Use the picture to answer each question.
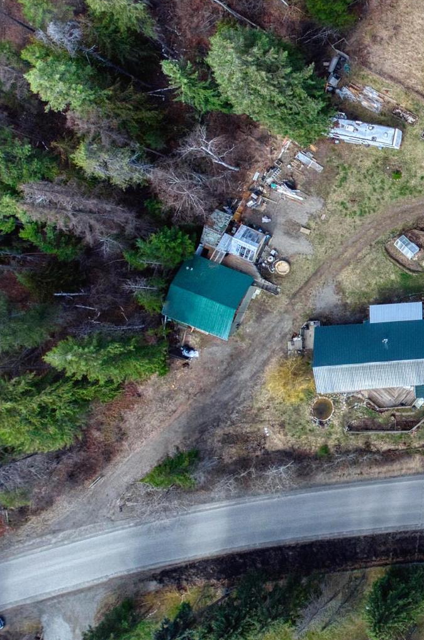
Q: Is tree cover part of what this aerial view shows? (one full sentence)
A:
Yes, there's tree cover in this view.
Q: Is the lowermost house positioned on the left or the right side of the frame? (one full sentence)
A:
The lowermost house sits on the right side.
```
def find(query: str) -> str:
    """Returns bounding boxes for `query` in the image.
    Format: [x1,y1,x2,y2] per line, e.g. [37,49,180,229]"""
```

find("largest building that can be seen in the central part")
[161,255,259,339]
